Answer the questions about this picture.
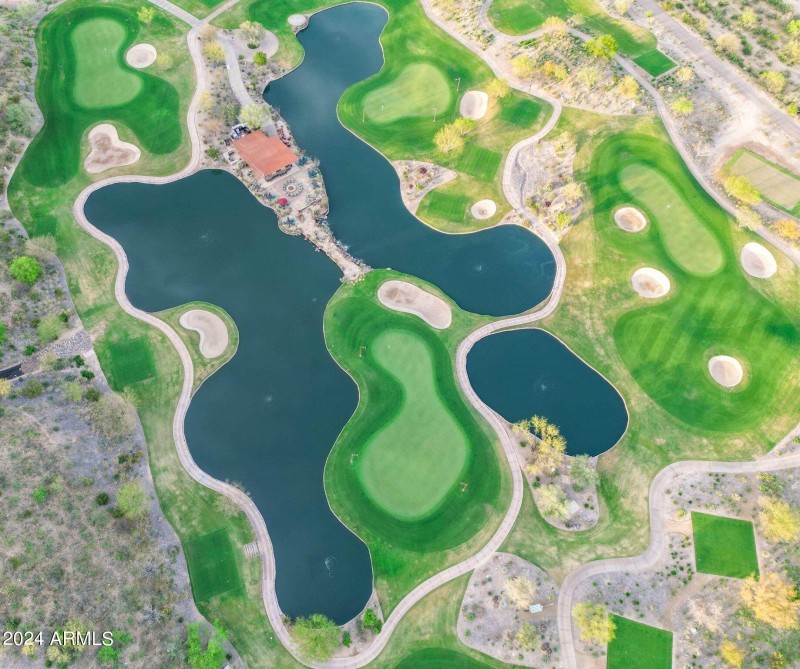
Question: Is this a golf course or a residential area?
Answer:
golf course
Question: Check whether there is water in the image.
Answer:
Yes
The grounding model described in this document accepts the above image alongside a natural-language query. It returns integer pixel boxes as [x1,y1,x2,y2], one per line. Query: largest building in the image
[233,129,299,184]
